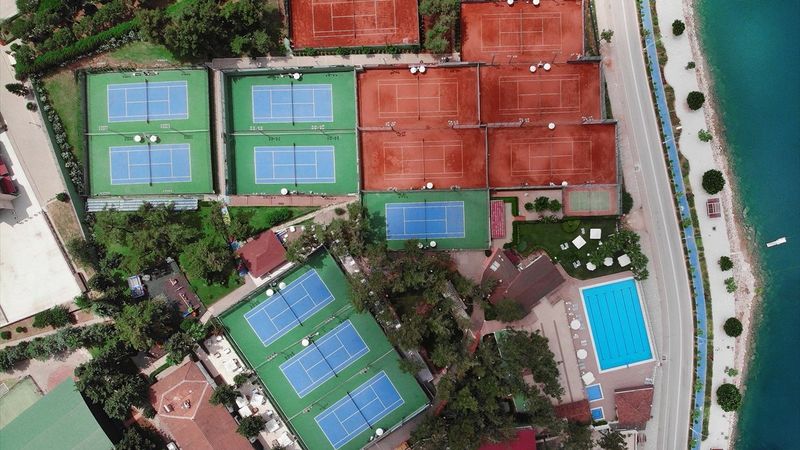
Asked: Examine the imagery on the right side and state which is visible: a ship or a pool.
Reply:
pool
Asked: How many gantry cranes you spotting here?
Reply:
0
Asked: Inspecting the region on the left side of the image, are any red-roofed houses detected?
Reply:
Yes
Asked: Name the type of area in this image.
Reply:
sports ground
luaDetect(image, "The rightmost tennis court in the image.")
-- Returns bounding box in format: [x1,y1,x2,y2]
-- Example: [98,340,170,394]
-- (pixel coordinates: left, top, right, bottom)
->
[563,187,618,216]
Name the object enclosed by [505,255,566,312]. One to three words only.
building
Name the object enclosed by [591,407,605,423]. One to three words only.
swimming pool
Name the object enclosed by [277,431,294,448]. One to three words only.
umbrella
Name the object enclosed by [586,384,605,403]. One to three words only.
swimming pool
